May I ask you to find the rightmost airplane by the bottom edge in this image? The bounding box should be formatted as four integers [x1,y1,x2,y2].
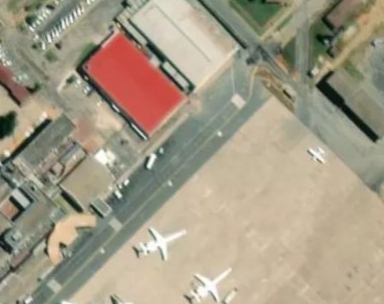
[189,268,231,303]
